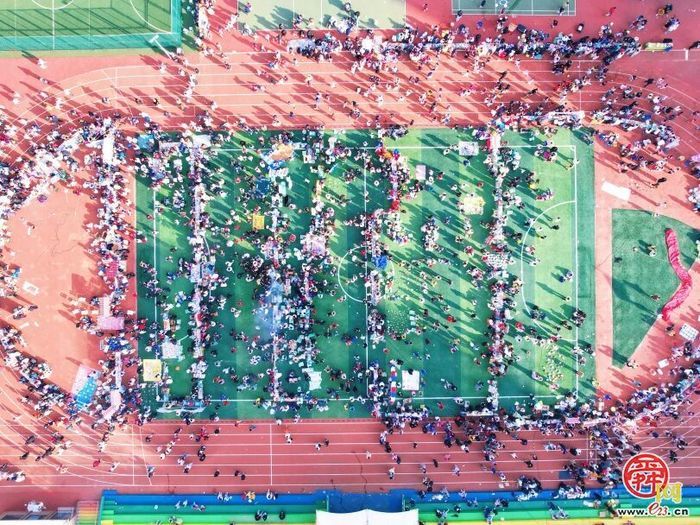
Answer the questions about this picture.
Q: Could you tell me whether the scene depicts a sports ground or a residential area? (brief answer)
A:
sports ground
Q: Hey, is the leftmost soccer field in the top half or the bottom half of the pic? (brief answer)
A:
top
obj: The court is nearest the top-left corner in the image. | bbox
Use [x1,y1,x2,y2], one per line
[236,0,403,29]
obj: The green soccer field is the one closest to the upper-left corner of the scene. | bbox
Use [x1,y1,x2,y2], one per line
[0,0,178,51]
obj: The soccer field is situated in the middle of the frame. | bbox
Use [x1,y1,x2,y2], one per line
[136,129,596,420]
